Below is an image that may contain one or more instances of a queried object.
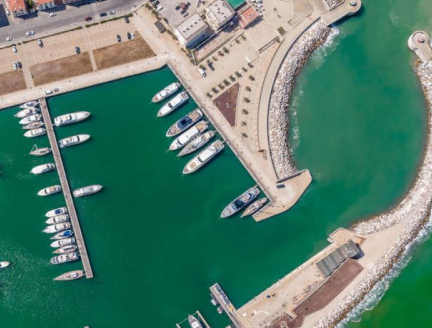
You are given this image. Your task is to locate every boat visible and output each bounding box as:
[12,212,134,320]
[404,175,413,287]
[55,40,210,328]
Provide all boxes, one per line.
[37,184,66,195]
[19,101,38,109]
[42,222,77,233]
[177,130,216,156]
[221,187,262,217]
[156,91,190,116]
[23,126,52,137]
[183,140,227,173]
[50,251,85,262]
[53,134,91,148]
[170,120,210,150]
[52,245,77,253]
[67,185,103,198]
[53,270,84,280]
[188,315,202,328]
[152,80,181,102]
[19,113,42,123]
[30,162,60,173]
[50,237,81,247]
[51,112,91,126]
[166,108,204,136]
[240,198,267,218]
[45,214,75,223]
[29,147,50,155]
[13,107,37,116]
[50,230,73,240]
[21,119,45,129]
[45,207,68,217]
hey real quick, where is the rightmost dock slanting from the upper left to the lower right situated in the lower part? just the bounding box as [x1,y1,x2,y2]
[209,283,238,328]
